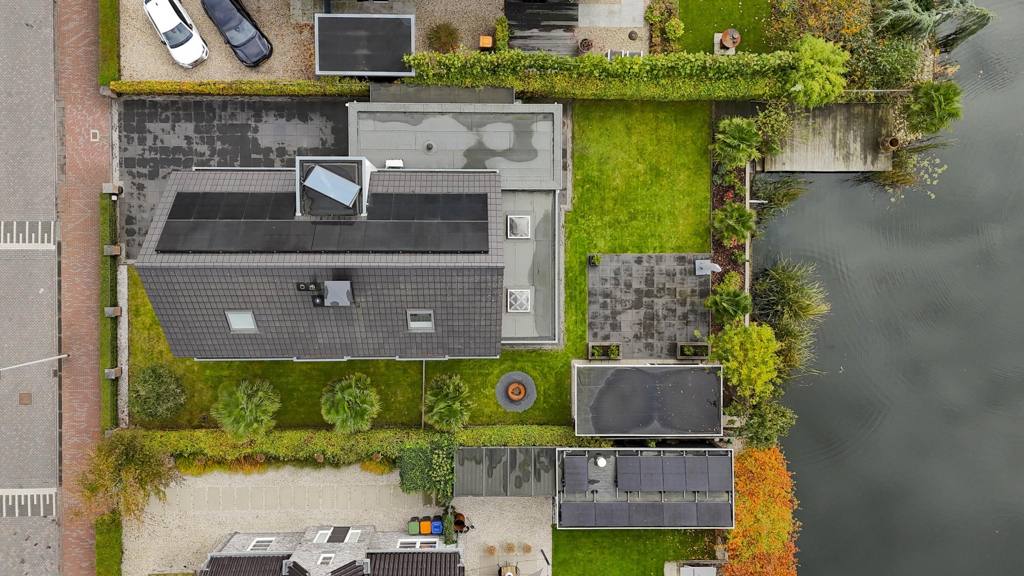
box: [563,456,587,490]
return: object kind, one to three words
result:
solar panel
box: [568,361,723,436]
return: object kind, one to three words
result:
shed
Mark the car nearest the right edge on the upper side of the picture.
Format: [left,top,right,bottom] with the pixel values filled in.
[196,0,273,70]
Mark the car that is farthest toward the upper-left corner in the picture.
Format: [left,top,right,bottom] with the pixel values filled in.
[128,0,204,70]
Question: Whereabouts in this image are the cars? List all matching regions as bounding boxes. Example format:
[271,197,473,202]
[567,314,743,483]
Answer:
[196,0,273,70]
[128,0,204,70]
